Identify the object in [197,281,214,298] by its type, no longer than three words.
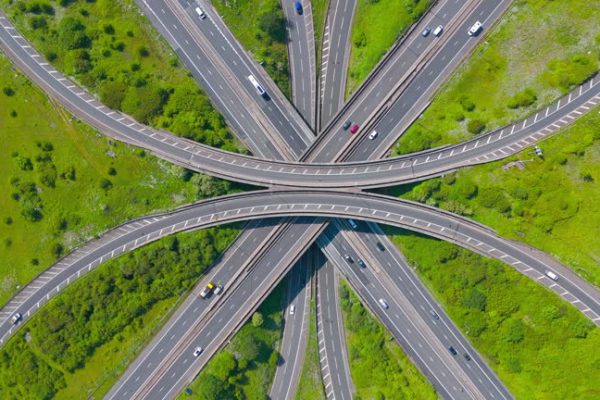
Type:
vehicle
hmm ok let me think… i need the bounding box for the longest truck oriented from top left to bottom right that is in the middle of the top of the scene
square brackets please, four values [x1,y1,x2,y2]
[247,73,268,97]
